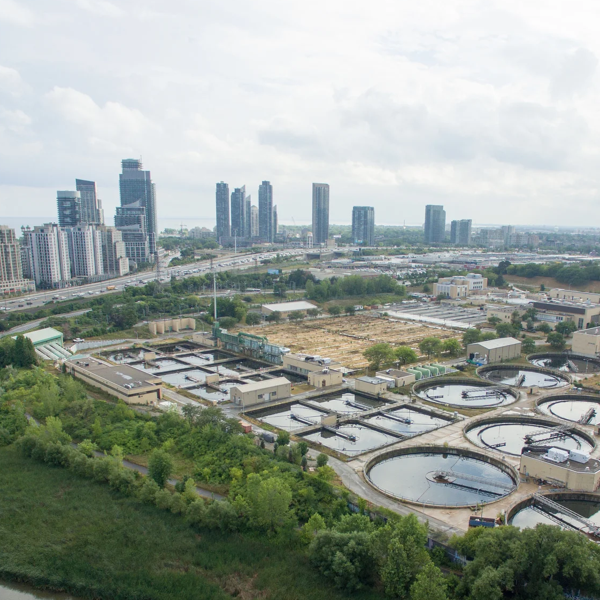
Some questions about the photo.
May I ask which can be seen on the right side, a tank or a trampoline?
tank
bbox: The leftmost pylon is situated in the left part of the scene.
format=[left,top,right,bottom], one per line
[147,251,167,298]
